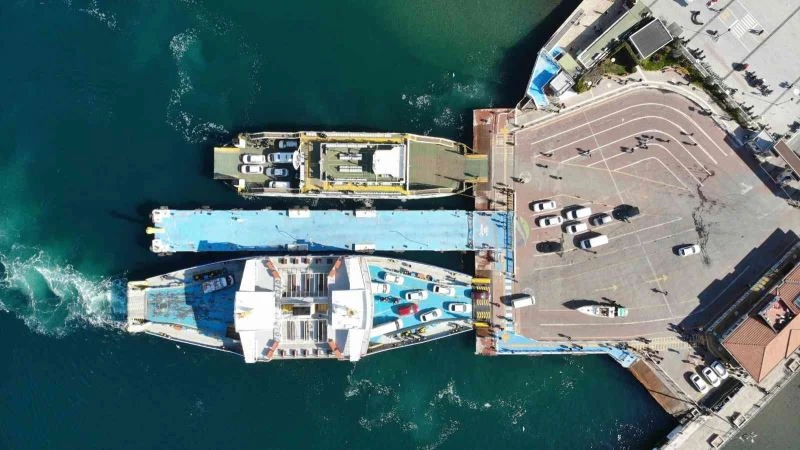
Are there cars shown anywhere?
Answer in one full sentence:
Yes, the frame does contain a car.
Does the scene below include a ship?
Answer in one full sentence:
Yes, there's a ship down there.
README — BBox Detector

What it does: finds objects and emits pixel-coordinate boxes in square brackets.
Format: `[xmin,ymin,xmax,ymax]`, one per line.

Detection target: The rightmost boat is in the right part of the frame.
[577,305,628,318]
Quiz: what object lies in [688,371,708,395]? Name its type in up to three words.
car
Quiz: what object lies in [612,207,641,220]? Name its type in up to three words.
vehicle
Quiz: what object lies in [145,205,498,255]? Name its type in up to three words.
ship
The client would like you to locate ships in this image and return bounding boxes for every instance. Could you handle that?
[145,205,498,255]
[128,254,492,363]
[214,131,488,199]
